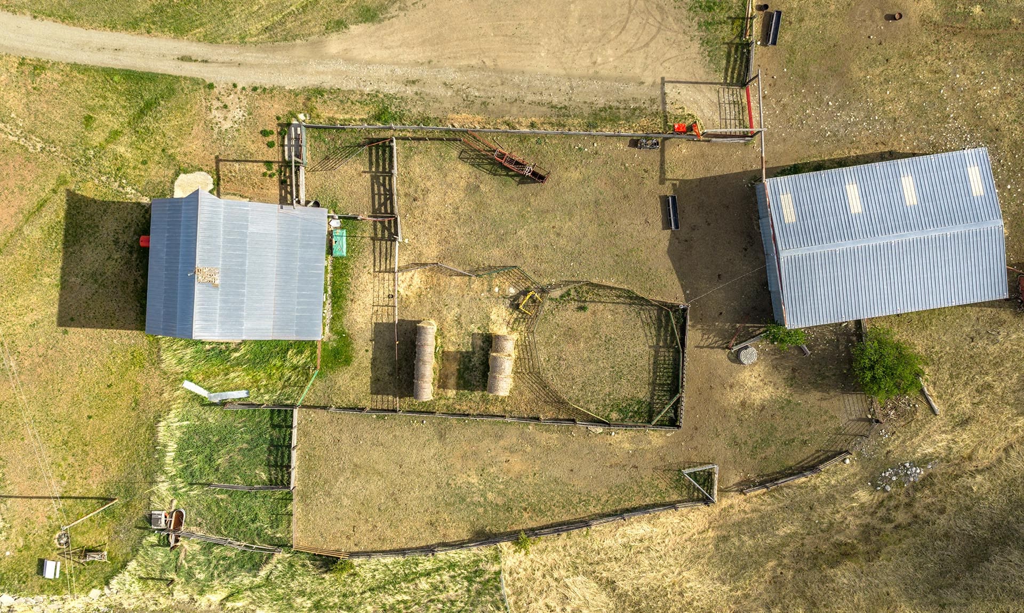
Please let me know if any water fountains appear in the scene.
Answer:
No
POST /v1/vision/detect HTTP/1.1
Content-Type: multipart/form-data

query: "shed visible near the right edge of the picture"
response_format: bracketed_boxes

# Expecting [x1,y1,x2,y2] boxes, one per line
[755,148,1008,328]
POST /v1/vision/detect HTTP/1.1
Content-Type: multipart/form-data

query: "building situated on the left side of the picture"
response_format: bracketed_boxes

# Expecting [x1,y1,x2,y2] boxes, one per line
[146,184,334,341]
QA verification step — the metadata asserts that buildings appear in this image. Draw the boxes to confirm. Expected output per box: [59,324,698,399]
[146,184,334,341]
[755,148,1008,328]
